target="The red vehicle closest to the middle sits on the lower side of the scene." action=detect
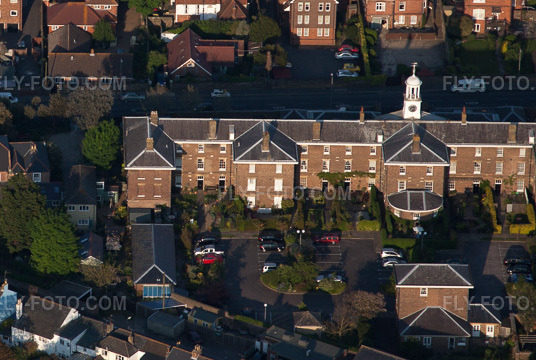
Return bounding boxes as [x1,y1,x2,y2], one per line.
[313,234,341,246]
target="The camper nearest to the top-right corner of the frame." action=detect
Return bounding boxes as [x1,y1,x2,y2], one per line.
[451,76,485,95]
